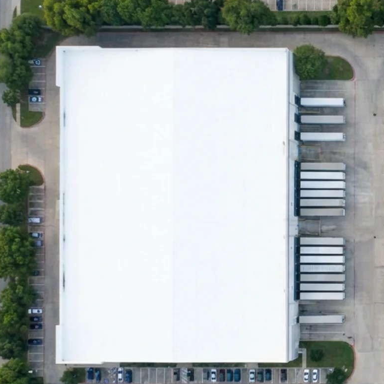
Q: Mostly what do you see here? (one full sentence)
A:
The largest share of the image is taken up by buildings.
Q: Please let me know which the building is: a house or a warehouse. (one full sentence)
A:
It looks like the building is a warehouse.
